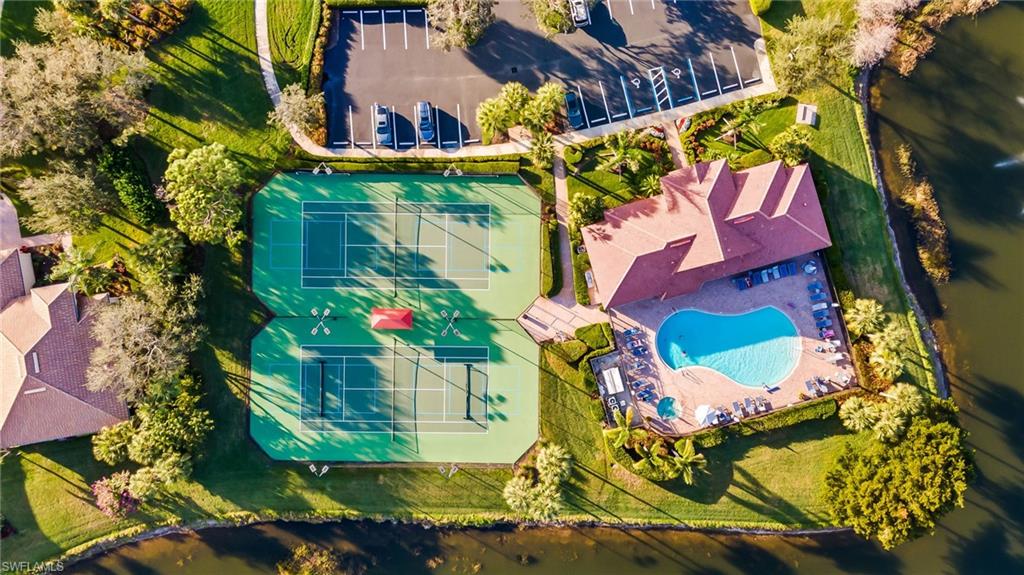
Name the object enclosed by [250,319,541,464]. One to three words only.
tennis court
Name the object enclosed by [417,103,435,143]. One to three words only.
car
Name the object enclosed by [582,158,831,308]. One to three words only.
building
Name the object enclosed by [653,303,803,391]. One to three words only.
swimming pool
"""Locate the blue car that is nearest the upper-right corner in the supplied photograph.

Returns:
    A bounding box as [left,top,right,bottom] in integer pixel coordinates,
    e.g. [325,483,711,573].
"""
[563,89,584,129]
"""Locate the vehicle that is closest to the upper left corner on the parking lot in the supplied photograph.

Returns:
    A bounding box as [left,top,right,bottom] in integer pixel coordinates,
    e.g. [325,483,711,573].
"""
[374,105,391,145]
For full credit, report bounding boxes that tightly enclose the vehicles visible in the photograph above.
[563,89,584,129]
[417,103,435,143]
[570,0,589,27]
[374,105,391,145]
